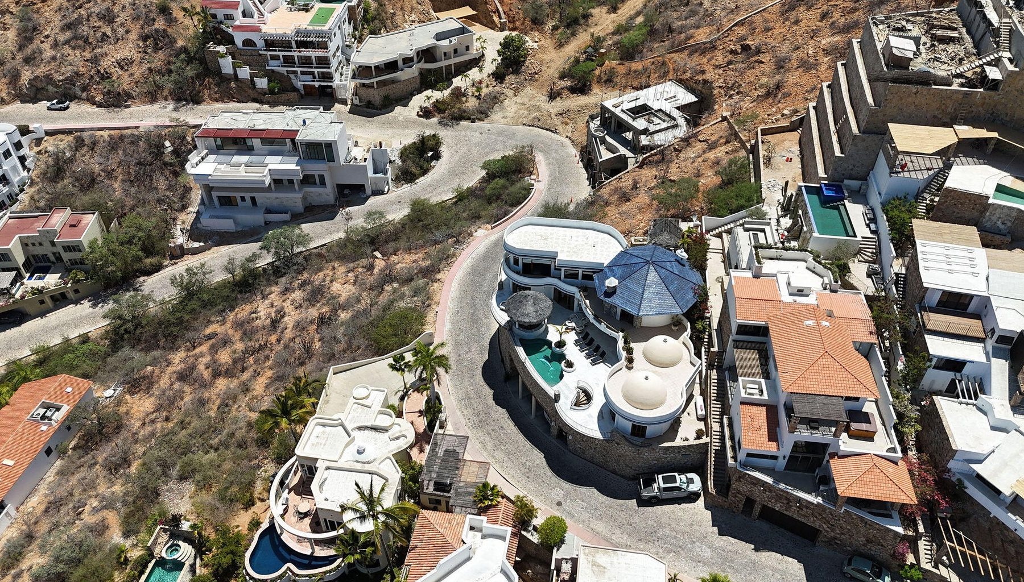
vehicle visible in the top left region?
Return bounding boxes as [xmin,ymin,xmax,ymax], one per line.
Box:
[42,98,71,111]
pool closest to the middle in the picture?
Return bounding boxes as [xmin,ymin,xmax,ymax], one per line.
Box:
[520,340,565,385]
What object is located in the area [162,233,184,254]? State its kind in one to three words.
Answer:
building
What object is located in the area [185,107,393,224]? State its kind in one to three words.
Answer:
house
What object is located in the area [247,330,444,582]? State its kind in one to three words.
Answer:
house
